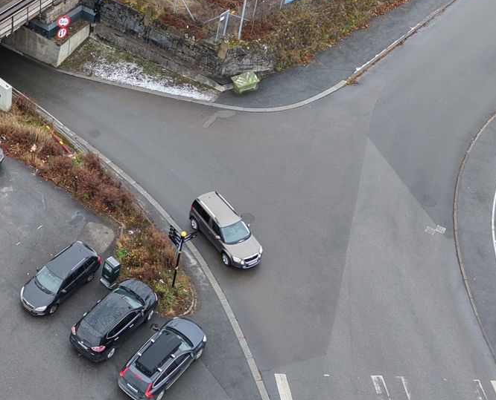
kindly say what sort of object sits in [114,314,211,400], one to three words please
car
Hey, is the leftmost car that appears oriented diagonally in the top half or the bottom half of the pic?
bottom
